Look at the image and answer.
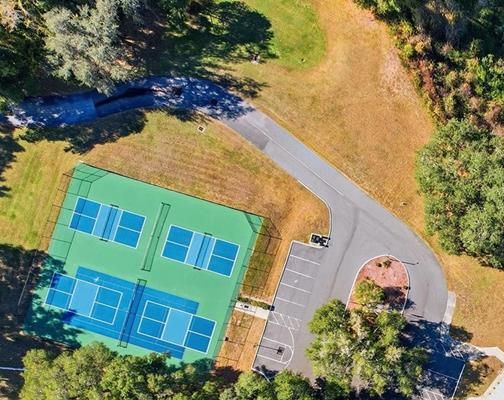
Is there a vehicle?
No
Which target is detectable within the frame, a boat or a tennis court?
tennis court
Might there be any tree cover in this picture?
Yes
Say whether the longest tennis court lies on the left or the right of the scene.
left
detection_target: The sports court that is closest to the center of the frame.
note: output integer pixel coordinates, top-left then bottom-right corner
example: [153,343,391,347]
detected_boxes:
[161,224,240,277]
